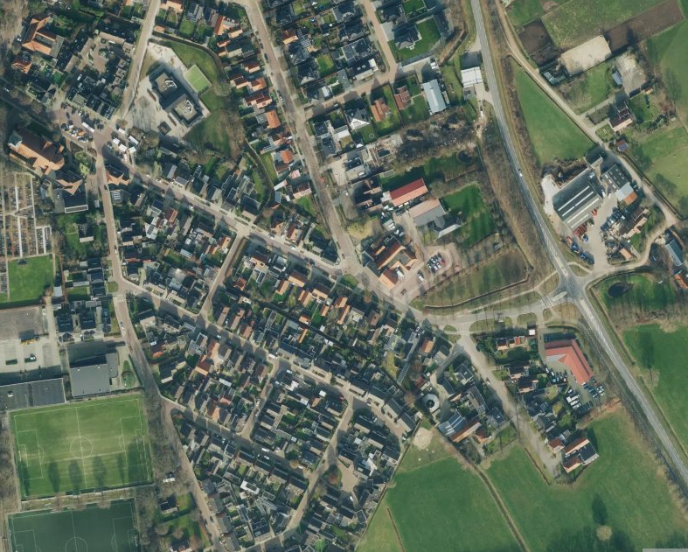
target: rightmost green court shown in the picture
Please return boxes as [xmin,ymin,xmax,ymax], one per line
[185,66,211,97]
